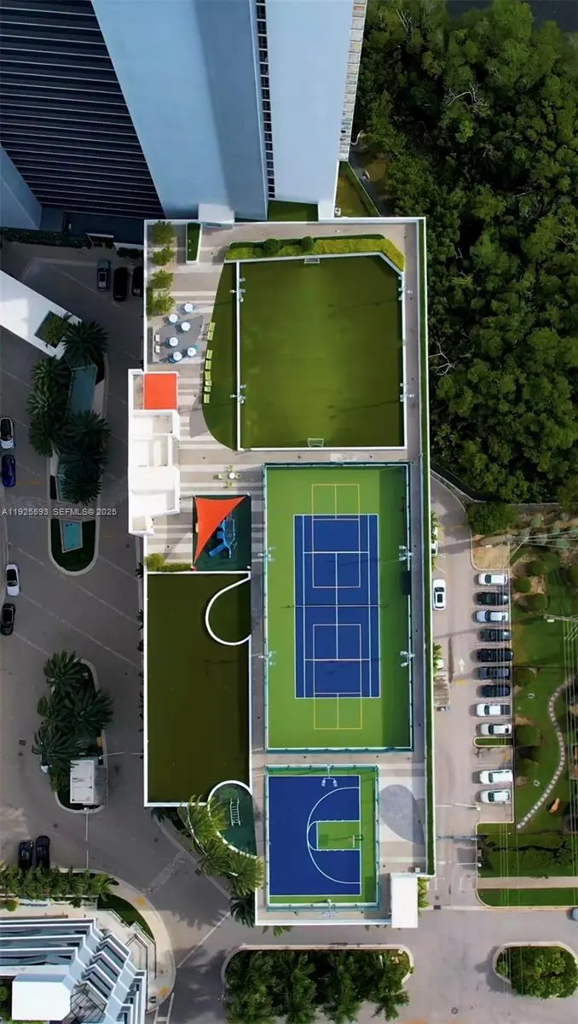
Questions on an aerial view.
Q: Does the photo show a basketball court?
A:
Yes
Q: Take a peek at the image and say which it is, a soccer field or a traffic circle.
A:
soccer field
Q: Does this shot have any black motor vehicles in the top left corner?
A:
Yes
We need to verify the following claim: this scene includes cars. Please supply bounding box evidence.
[96,259,112,292]
[0,603,15,636]
[131,266,142,298]
[478,647,512,663]
[5,563,21,597]
[479,769,514,786]
[0,417,15,450]
[0,454,16,487]
[476,571,509,587]
[478,722,512,738]
[18,838,34,873]
[476,591,510,606]
[479,788,513,805]
[432,578,447,611]
[479,627,512,643]
[479,683,512,699]
[478,665,510,681]
[34,835,51,870]
[112,268,128,301]
[476,608,509,624]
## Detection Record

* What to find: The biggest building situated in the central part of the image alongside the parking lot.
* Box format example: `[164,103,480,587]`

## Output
[142,216,437,929]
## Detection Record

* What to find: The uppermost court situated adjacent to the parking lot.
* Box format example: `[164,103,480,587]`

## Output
[267,466,411,747]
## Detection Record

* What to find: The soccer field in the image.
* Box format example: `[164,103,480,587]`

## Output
[237,252,406,451]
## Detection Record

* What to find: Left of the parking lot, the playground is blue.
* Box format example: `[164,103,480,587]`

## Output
[208,513,237,557]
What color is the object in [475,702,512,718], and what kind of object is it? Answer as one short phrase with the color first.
white vehicle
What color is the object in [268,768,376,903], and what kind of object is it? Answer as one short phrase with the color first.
blue basketball court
